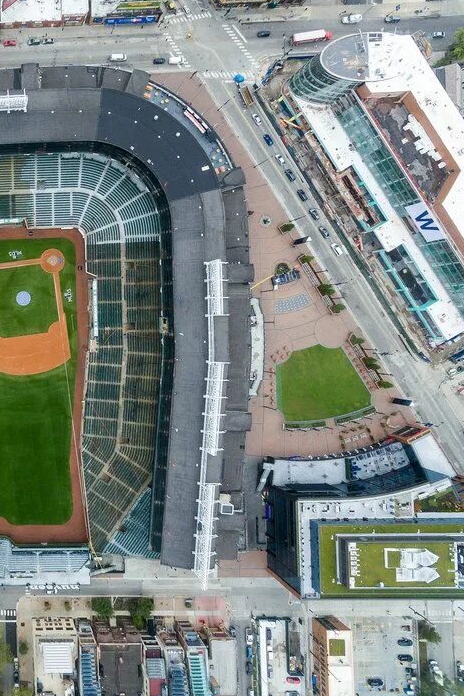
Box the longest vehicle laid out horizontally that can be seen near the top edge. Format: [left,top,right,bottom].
[289,29,333,45]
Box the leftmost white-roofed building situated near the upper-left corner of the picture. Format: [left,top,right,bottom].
[0,0,61,31]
